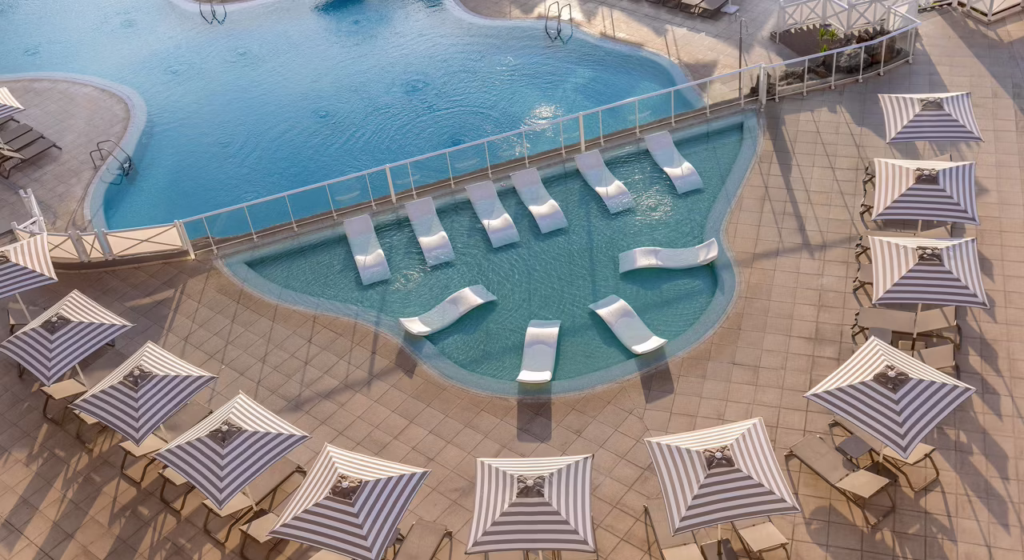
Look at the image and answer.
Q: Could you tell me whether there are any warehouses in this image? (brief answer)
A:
No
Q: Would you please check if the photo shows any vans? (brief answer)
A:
No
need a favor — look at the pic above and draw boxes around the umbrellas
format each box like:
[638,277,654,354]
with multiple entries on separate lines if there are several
[867,236,989,359]
[870,161,978,238]
[717,0,744,16]
[68,340,221,469]
[642,416,801,560]
[152,388,312,523]
[267,443,432,560]
[804,335,978,494]
[877,92,983,163]
[463,451,594,560]
[0,231,57,322]
[0,290,134,389]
